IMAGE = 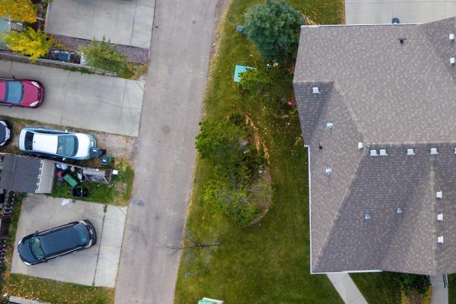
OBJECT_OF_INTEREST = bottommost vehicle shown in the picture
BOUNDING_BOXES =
[9,217,96,268]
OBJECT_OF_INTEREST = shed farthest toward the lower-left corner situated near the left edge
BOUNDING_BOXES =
[1,152,73,193]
